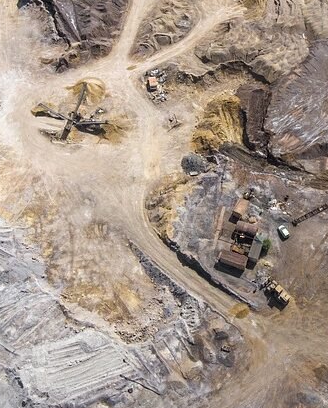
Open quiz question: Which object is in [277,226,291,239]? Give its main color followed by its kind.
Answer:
white vehicle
